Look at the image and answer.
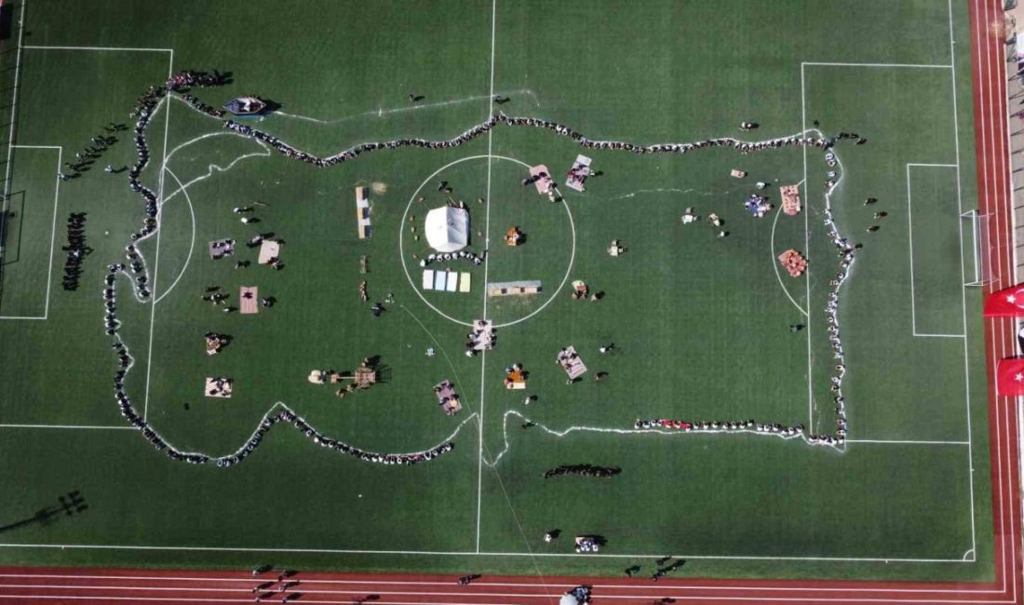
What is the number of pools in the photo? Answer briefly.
none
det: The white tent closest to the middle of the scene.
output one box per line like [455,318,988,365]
[415,198,485,256]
